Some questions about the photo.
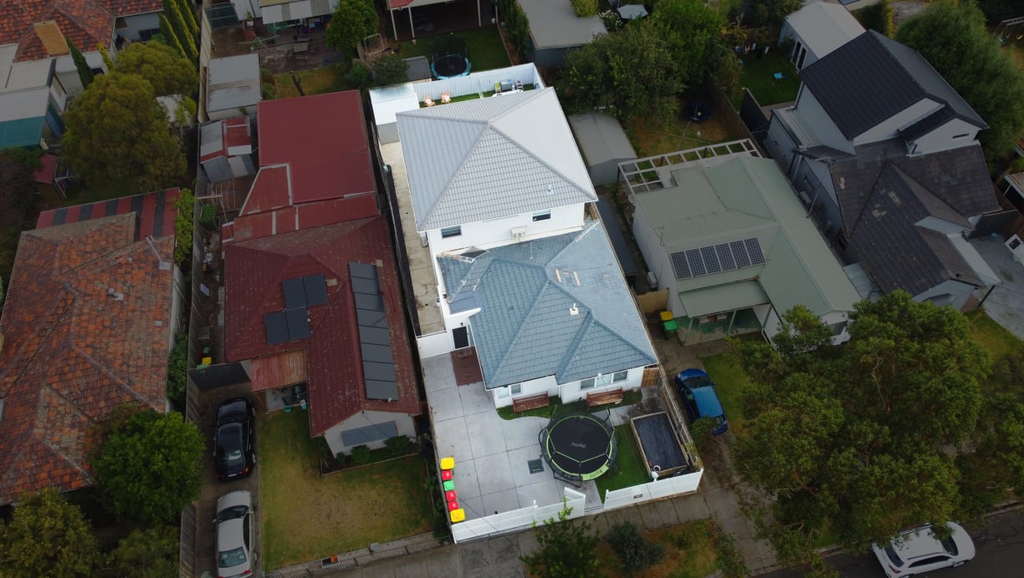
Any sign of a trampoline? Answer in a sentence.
Yes, looking at the shot, I can spot a trampoline.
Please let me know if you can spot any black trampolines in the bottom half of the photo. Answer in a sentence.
Yes, a black trampoline can be seen in the bottom half of the photo.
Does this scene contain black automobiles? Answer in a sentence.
Yes, the photo shows a black automobile.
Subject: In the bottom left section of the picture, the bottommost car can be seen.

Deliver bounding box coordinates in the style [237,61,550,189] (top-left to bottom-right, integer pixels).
[210,486,262,578]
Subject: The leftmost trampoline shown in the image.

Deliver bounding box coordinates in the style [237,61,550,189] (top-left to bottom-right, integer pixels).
[426,37,475,77]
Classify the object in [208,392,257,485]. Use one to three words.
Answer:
car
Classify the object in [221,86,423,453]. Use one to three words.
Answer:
house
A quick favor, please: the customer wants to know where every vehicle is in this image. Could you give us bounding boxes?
[210,486,262,578]
[208,392,257,485]
[673,363,732,439]
[870,523,979,578]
